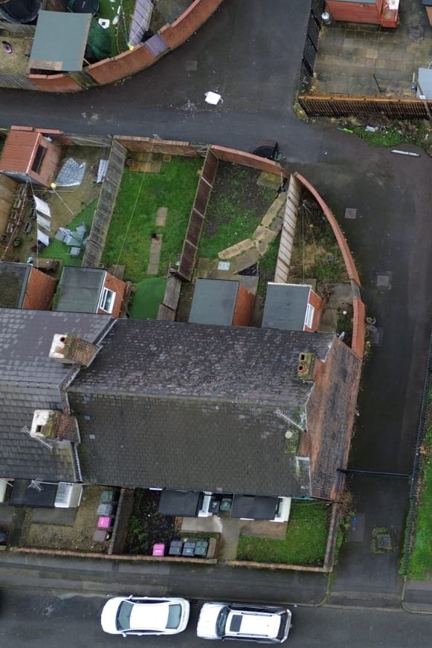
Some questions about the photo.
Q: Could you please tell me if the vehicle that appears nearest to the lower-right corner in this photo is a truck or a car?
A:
car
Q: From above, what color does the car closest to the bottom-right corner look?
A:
white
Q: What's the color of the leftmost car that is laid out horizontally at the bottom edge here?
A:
white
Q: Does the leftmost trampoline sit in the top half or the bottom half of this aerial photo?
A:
top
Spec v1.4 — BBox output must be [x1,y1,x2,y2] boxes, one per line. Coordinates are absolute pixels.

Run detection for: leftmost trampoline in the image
[0,0,45,24]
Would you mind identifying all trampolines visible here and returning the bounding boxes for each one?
[0,0,45,24]
[65,0,98,13]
